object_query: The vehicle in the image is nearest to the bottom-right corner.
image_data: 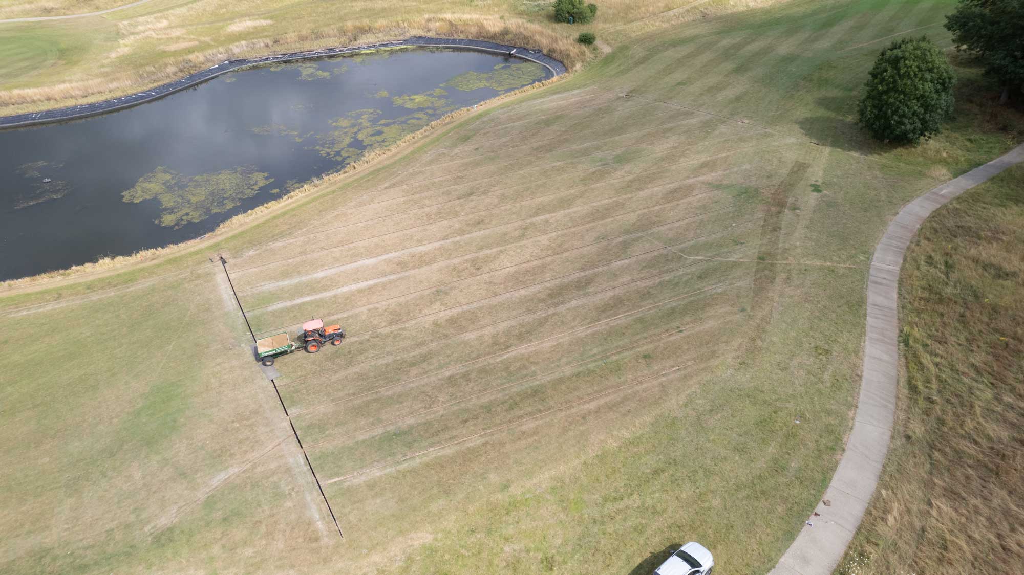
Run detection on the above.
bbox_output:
[651,539,712,575]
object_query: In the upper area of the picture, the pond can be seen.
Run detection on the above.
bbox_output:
[0,48,557,282]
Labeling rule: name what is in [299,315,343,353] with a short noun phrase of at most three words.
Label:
work vehicle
